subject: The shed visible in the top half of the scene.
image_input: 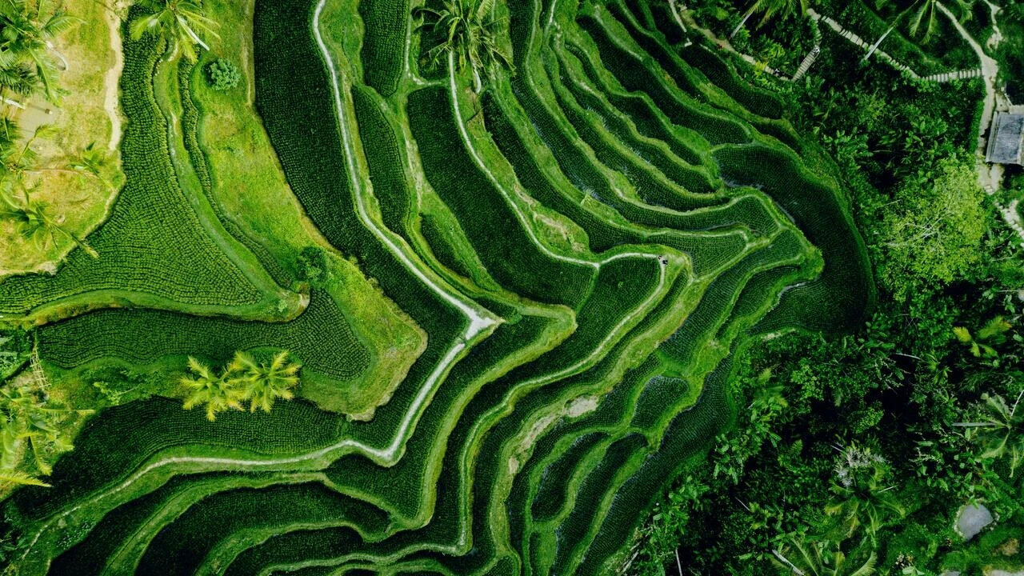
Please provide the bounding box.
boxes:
[976,112,1024,166]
